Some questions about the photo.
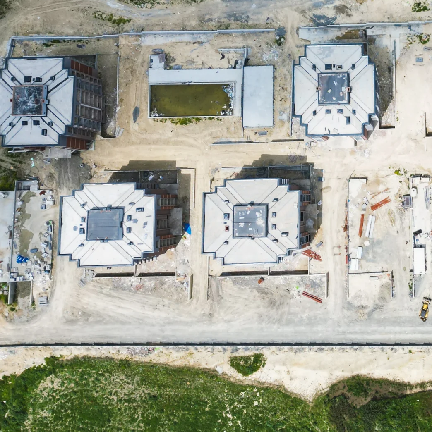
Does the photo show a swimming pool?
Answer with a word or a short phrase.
Yes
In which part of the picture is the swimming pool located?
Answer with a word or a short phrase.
top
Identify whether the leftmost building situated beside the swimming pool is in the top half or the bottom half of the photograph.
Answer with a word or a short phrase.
top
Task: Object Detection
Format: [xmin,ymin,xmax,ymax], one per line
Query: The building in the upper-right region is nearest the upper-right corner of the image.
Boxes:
[291,42,381,149]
